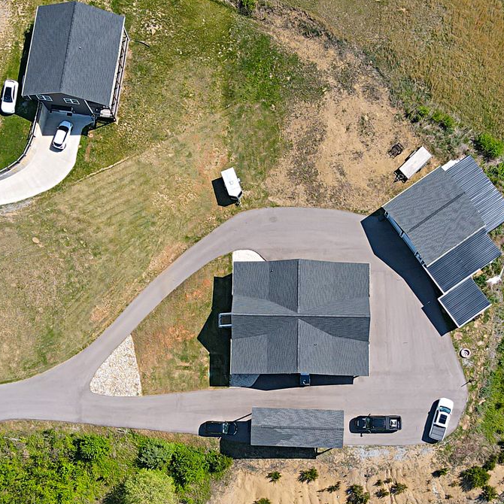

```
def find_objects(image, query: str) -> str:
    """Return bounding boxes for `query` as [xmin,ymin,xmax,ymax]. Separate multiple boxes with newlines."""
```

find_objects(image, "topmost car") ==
[0,82,18,115]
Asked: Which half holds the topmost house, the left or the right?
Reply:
left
